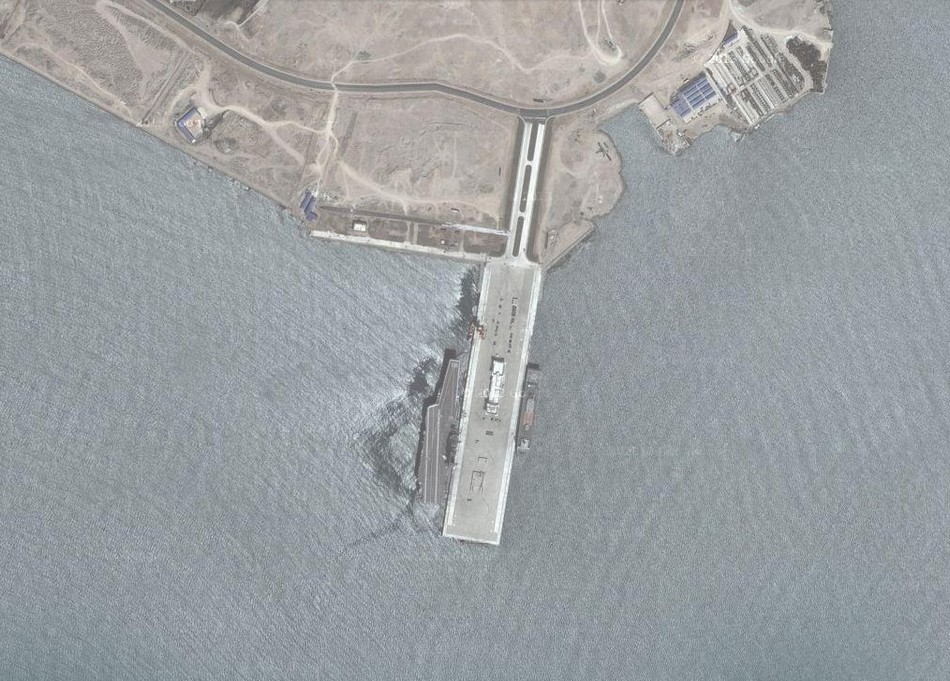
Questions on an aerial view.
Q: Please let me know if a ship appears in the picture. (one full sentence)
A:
Yes, I can see a ship in this picture.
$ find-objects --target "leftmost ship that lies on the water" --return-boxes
[417,351,466,516]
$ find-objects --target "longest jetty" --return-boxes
[443,266,541,545]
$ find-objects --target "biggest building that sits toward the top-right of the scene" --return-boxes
[675,77,720,117]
